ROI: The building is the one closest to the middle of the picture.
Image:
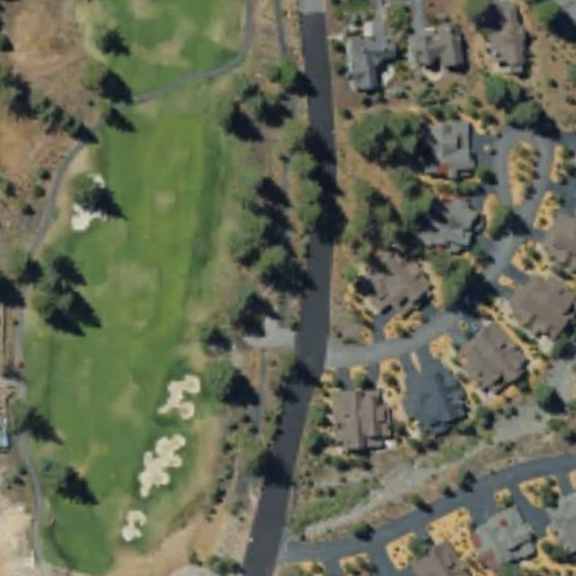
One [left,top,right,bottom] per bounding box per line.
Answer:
[371,250,435,315]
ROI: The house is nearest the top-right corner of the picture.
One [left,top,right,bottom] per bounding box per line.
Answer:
[490,0,531,74]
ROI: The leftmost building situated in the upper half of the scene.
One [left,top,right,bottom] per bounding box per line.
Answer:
[343,35,399,92]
